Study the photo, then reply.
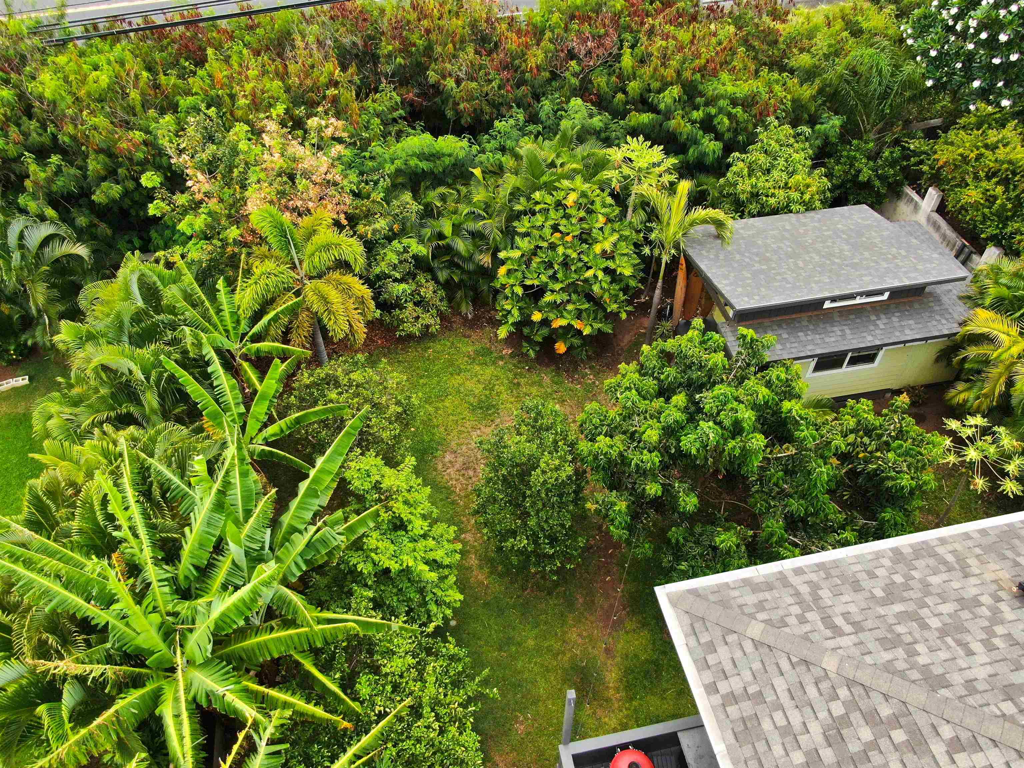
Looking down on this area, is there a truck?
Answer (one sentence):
No, I can't see a single truck in this photo.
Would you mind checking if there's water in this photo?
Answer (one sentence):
No, there is no water in the image.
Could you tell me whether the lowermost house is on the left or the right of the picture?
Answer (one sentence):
The lowermost house sits on the right side.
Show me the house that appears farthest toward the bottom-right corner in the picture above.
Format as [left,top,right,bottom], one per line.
[641,502,1024,768]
